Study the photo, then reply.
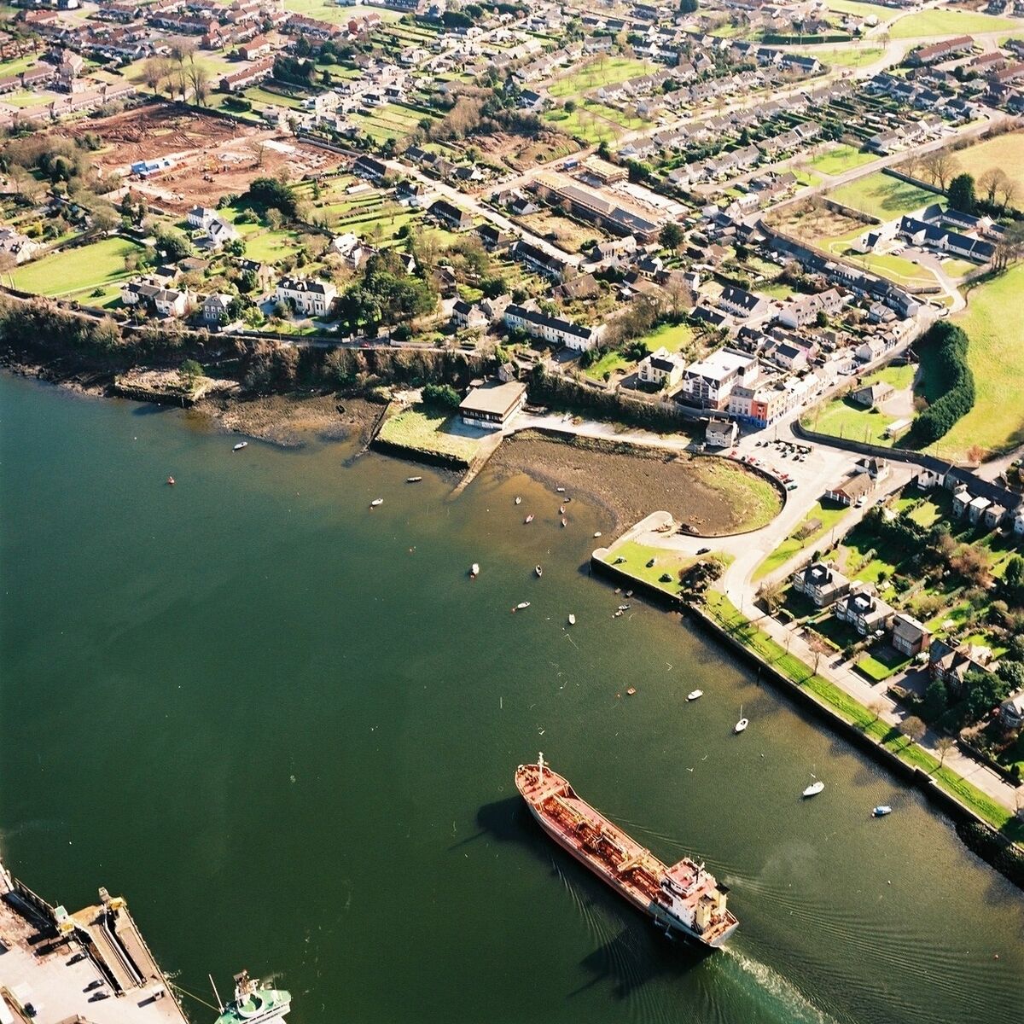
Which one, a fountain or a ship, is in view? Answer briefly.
ship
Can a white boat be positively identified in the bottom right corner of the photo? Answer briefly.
Yes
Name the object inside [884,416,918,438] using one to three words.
building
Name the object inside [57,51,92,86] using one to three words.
house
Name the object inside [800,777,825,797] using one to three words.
boat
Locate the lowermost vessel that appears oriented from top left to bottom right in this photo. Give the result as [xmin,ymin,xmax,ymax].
[513,757,743,962]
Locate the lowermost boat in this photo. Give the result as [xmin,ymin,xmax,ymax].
[200,976,299,1024]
